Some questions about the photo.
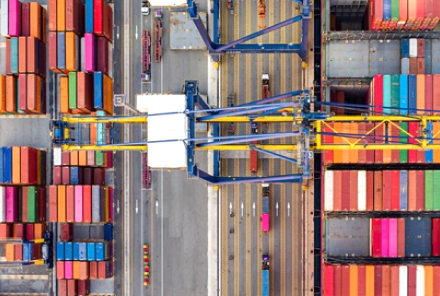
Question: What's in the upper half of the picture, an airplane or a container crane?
container crane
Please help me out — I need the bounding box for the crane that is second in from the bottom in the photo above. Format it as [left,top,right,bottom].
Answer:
[47,83,440,188]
